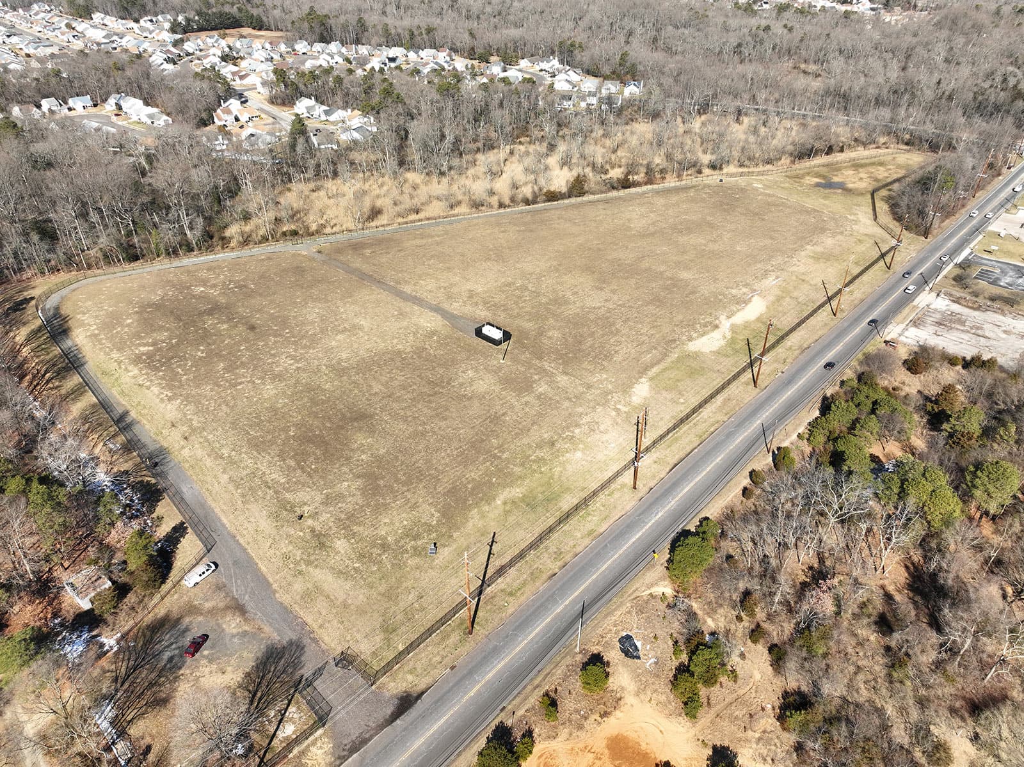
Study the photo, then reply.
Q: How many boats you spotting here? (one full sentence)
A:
The photo contains no boats.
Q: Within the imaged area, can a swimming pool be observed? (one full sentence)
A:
No, there is no swimming pool in the image.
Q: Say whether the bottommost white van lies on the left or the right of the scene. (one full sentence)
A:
The bottommost white van is on the left side of the image.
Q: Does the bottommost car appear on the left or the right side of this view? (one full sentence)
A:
It is on the left.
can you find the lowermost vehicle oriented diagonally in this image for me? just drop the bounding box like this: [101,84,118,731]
[182,632,212,663]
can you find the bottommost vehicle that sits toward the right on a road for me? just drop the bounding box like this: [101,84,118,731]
[822,360,837,373]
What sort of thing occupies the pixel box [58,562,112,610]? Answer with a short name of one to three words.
building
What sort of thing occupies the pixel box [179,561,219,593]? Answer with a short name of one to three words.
van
